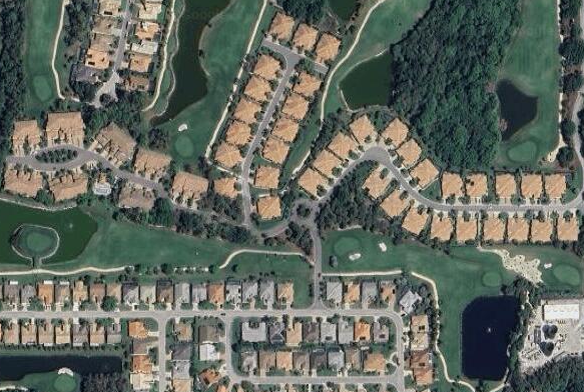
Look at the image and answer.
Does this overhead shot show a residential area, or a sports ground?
residential area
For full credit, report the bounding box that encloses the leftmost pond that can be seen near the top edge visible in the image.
[153,0,232,123]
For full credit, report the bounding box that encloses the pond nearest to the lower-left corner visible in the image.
[0,355,125,384]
